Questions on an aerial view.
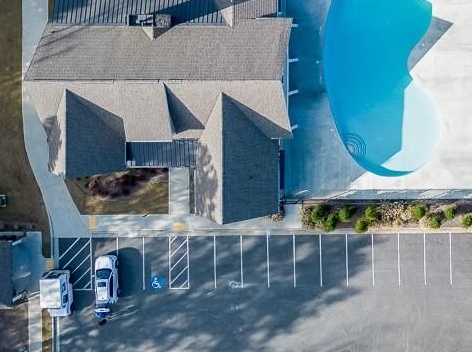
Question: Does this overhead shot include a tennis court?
No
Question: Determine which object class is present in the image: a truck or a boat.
truck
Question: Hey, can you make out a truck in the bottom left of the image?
Yes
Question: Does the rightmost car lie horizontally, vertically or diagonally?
vertically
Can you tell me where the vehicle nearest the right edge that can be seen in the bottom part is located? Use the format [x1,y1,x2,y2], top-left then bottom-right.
[91,253,119,311]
